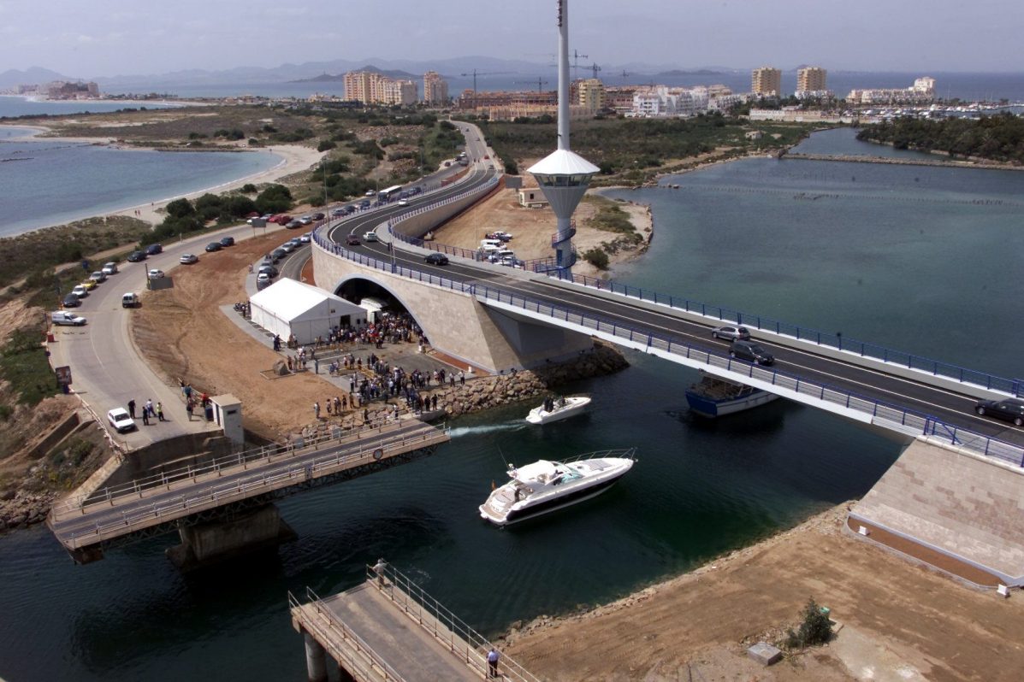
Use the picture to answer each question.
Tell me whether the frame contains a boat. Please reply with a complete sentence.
Yes, the frame does contain a boat.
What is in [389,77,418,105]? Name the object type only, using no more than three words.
building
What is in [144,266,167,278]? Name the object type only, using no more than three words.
vehicle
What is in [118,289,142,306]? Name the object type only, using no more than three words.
vehicle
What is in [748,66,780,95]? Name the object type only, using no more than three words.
building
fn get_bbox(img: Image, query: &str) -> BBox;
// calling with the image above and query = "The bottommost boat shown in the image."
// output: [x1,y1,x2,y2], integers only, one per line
[473,442,639,529]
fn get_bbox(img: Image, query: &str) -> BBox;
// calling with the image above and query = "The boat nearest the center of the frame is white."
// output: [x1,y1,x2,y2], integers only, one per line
[521,390,589,424]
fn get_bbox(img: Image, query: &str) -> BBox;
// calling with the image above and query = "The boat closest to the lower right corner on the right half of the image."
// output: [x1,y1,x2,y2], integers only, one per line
[688,375,789,420]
